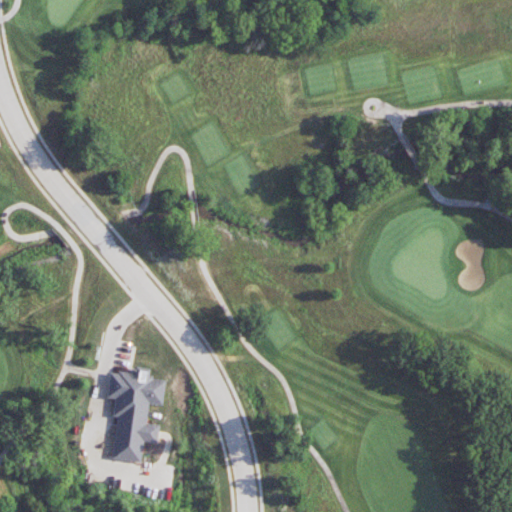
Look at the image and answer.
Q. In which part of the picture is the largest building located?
bottom left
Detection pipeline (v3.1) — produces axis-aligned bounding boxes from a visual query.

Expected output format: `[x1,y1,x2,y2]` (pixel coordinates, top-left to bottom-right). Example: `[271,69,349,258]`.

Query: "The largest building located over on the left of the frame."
[108,367,166,462]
